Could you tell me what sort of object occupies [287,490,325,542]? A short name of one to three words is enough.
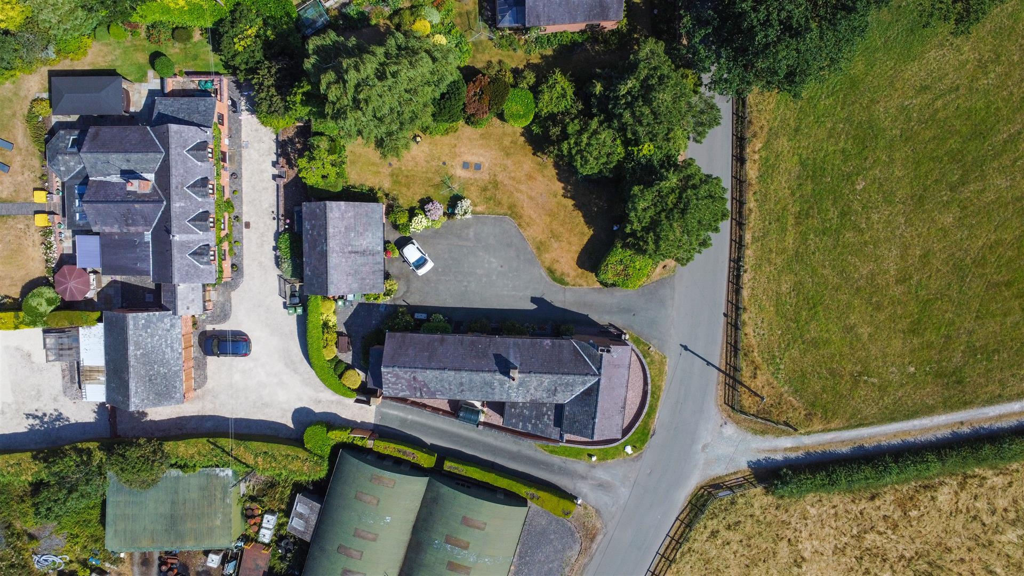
shed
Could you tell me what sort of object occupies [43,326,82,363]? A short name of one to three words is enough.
greenhouse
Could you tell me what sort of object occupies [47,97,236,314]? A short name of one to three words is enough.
house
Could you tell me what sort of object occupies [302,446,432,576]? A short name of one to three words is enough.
barn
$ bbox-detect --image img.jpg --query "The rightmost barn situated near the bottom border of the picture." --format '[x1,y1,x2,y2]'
[398,471,529,576]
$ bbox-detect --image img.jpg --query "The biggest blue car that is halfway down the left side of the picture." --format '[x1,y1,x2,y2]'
[207,334,251,357]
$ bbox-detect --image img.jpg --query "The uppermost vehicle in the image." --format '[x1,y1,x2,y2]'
[402,239,434,277]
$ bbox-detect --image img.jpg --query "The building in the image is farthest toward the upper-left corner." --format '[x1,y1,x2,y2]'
[51,76,133,119]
